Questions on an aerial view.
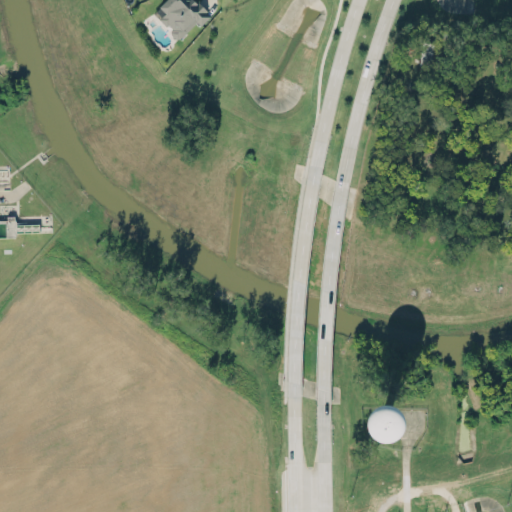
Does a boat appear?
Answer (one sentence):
No, the frame has no boat in it.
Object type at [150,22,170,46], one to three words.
swimming pool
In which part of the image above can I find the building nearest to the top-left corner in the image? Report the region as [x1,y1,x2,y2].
[152,0,213,44]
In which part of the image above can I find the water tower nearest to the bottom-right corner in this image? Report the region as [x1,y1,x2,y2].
[368,404,406,444]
